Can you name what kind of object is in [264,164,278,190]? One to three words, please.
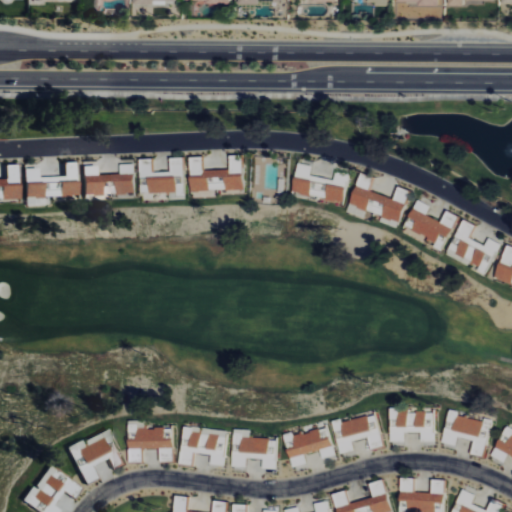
swimming pool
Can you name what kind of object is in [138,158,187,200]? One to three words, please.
house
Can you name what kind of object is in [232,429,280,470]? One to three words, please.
house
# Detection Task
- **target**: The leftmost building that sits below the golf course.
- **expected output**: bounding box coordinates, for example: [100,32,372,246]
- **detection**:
[24,466,85,512]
